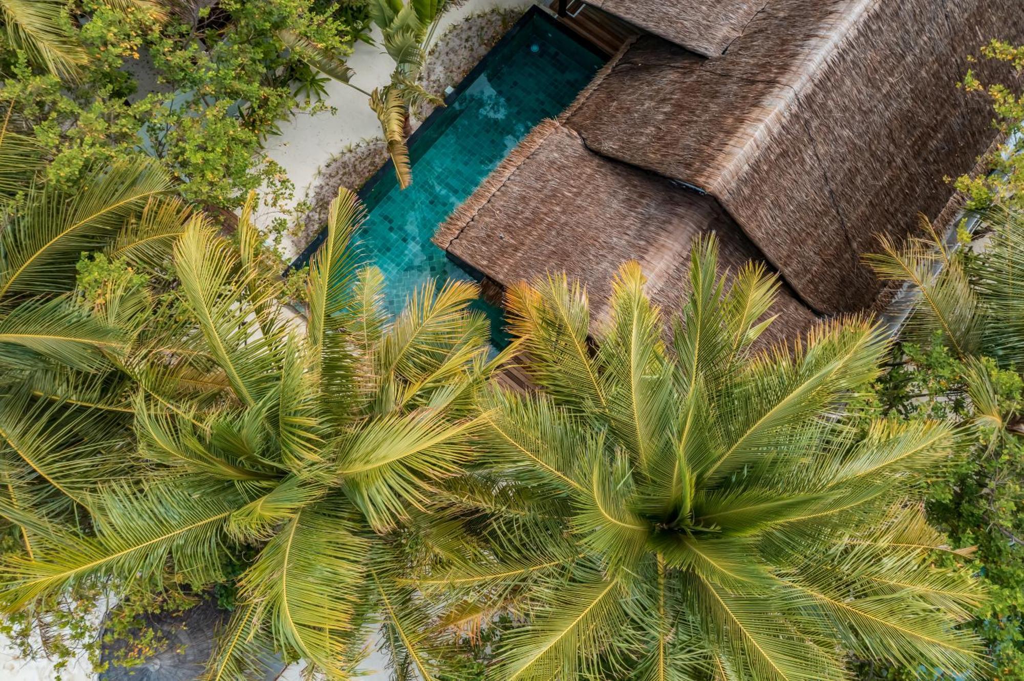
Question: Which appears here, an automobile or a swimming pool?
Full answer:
Visible in the photo is a swimming pool.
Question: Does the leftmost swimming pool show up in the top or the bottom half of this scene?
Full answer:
It is in the top half that the leftmost swimming pool appears.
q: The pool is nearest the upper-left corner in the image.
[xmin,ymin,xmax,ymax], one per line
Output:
[259,9,613,400]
